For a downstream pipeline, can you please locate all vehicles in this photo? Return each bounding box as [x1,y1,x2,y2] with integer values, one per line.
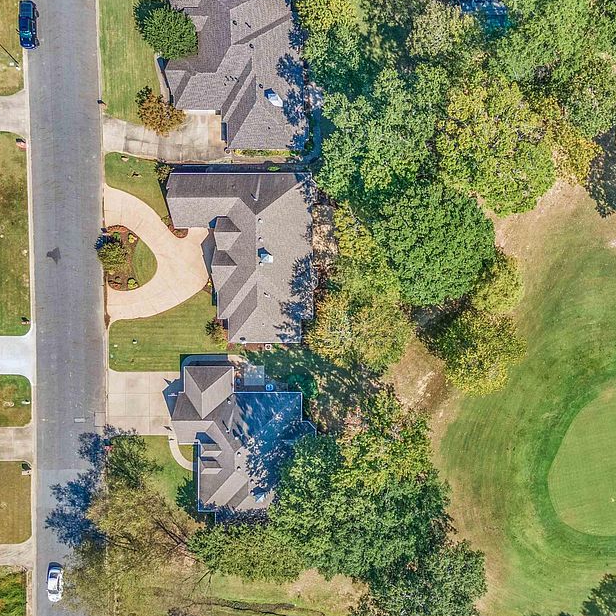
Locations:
[42,565,63,604]
[14,0,37,48]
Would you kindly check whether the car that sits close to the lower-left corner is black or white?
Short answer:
white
